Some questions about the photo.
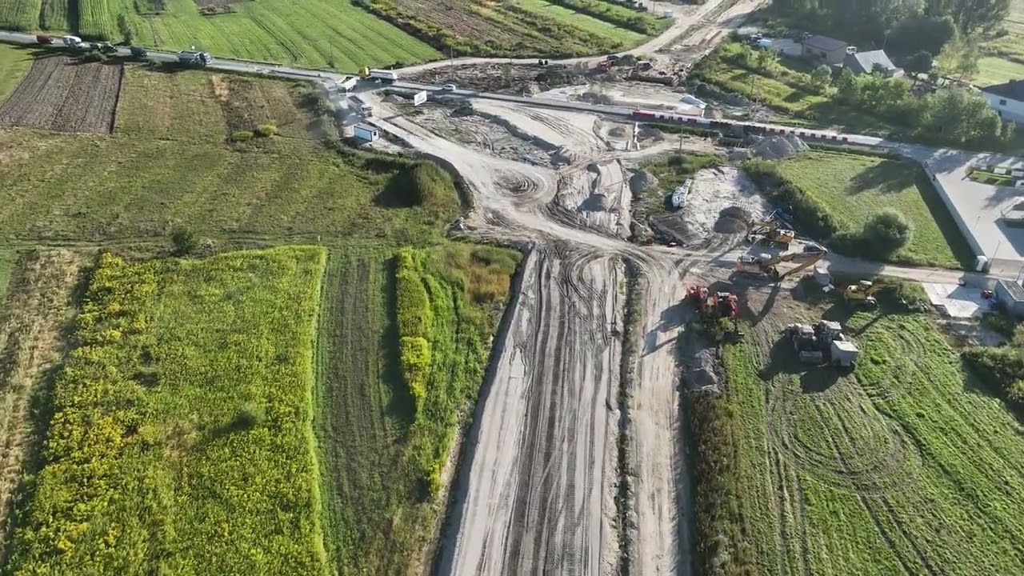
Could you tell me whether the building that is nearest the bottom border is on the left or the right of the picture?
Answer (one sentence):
The building that is nearest the bottom border appears in the right half of the scene.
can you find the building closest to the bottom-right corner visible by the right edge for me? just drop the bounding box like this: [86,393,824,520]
[994,277,1024,320]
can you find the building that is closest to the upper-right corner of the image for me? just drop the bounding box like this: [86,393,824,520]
[987,75,1024,119]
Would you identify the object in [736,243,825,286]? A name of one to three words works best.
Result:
work vehicle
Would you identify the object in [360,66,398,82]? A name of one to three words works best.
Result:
vehicle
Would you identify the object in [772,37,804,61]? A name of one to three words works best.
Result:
shed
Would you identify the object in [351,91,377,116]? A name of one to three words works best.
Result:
truck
